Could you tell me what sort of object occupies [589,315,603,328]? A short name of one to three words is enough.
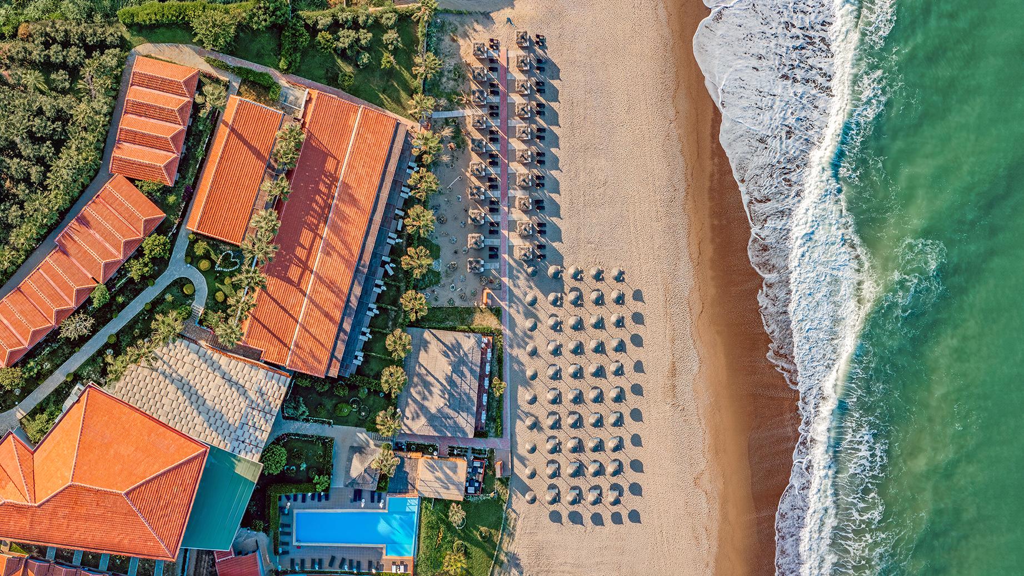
umbrella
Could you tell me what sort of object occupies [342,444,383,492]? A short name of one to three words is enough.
gazebo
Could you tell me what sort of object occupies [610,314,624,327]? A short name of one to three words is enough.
umbrella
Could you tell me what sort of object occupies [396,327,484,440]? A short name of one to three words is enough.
building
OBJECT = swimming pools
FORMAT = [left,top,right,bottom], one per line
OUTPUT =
[292,496,420,558]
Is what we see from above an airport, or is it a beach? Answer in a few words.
beach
